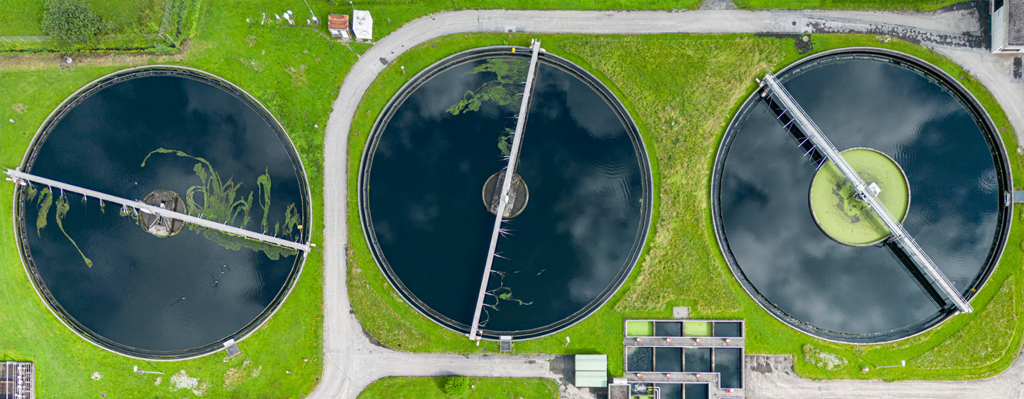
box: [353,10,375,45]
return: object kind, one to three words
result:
shed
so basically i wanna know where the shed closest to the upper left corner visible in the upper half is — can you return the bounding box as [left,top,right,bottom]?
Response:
[328,14,352,42]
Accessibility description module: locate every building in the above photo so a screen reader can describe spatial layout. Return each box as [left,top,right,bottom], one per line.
[608,385,630,399]
[353,10,375,45]
[575,356,607,388]
[328,14,352,42]
[988,0,1024,52]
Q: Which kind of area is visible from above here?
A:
industrial area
